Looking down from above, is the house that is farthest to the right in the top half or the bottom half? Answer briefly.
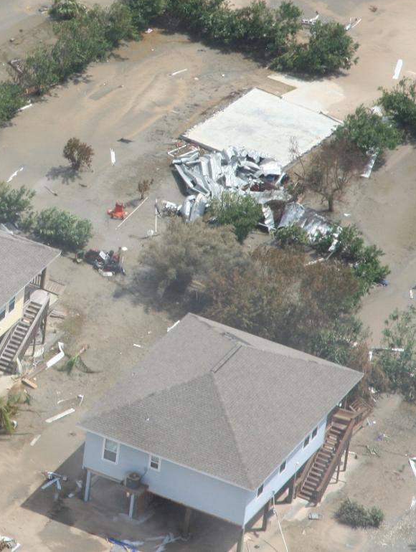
bottom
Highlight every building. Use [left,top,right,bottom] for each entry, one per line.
[0,231,64,375]
[75,313,367,552]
